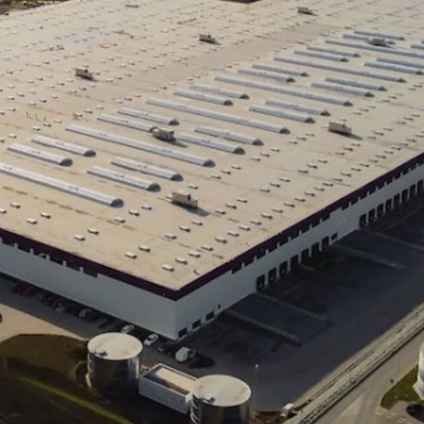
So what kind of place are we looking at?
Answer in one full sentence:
What you see here is an industrial area.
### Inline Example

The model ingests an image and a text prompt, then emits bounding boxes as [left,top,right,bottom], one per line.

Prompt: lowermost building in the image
[138,361,198,415]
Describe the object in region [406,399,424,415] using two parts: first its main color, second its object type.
black car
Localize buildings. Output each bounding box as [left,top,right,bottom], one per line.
[138,361,198,415]
[0,0,424,339]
